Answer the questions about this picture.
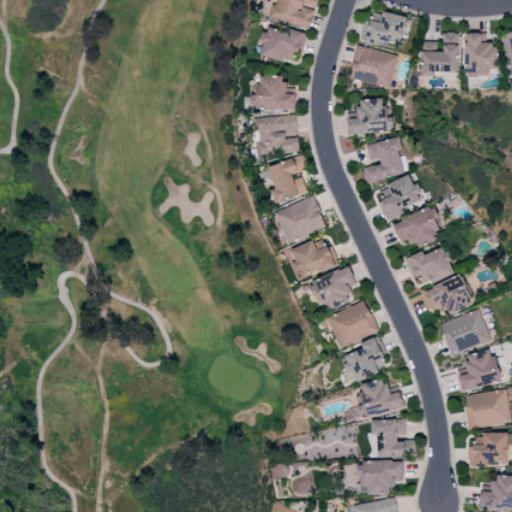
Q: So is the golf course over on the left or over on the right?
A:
left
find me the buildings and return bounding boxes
[442,308,494,356]
[351,44,398,88]
[275,195,328,242]
[352,499,400,512]
[266,0,318,28]
[408,248,458,286]
[380,176,422,218]
[348,98,396,134]
[360,460,405,496]
[466,32,499,76]
[420,31,461,74]
[468,390,512,429]
[481,476,512,512]
[470,434,510,468]
[292,239,340,280]
[426,276,476,315]
[393,206,442,245]
[306,266,358,310]
[364,136,408,182]
[328,302,376,348]
[362,380,406,418]
[362,10,408,46]
[373,420,417,458]
[269,154,310,205]
[262,26,306,61]
[255,114,300,154]
[250,74,296,112]
[344,338,388,381]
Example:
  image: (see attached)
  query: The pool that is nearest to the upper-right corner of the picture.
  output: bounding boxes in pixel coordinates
[481,76,501,88]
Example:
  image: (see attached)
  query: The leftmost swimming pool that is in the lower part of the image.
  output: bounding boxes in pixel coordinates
[323,400,352,418]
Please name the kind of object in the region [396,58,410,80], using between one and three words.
swimming pool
